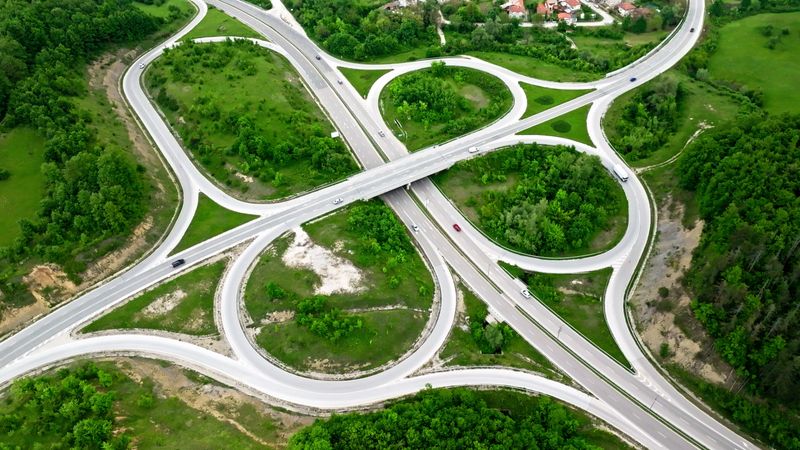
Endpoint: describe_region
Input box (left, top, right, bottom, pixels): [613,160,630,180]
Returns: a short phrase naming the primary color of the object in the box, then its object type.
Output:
white vehicle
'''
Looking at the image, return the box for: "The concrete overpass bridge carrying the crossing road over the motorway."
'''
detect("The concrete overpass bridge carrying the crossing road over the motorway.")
[344,140,452,208]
